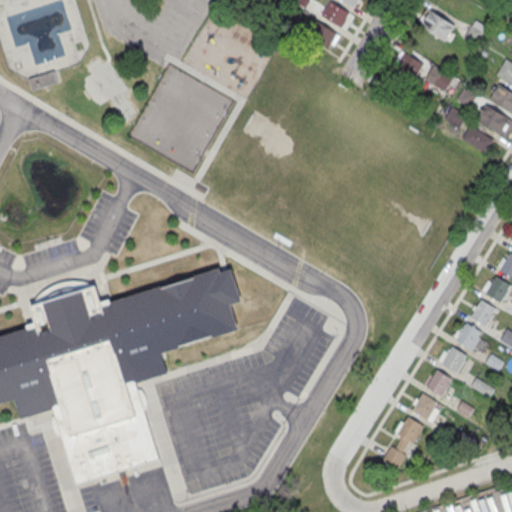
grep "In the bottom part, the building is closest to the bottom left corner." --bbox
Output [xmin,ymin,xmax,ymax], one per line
[0,266,240,484]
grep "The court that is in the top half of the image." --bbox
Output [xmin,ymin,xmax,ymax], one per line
[133,66,233,170]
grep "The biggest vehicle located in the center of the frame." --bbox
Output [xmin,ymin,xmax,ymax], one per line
[274,233,292,247]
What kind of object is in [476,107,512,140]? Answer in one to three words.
house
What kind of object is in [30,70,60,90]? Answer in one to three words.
building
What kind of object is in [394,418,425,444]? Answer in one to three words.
house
